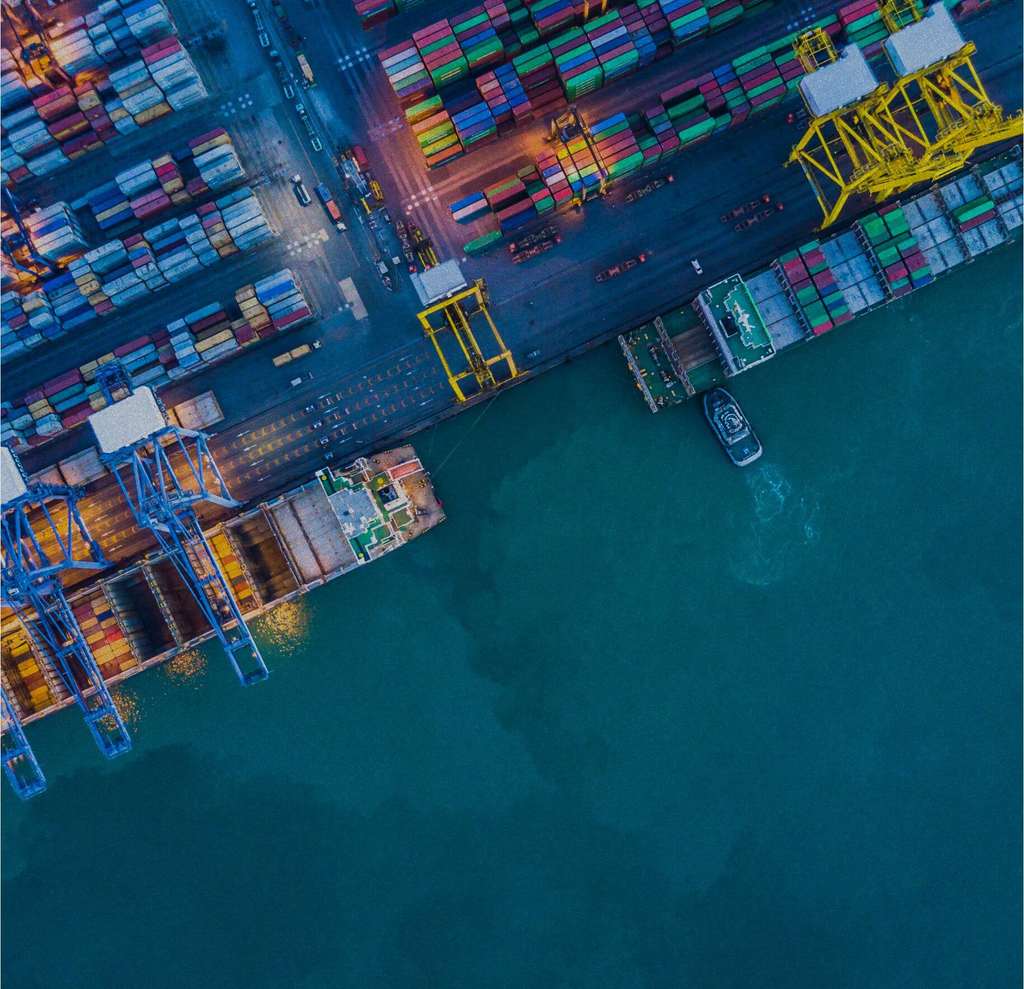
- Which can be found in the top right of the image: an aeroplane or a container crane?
container crane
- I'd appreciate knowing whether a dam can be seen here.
No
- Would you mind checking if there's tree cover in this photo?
No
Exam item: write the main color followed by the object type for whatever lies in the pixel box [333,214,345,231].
white vehicle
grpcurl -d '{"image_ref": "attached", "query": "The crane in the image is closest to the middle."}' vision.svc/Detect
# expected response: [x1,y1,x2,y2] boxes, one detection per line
[406,231,527,407]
